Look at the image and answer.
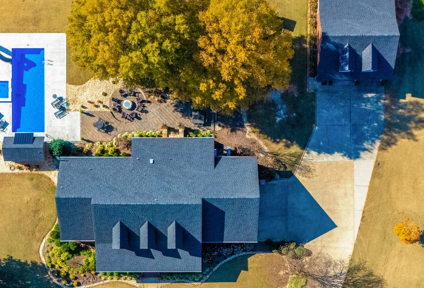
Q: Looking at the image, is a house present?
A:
Yes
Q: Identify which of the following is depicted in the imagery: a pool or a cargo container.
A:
pool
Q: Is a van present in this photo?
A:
No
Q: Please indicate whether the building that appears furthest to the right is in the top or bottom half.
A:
top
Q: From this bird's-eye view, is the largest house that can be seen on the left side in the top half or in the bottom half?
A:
bottom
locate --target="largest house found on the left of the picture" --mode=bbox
[55,136,260,277]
